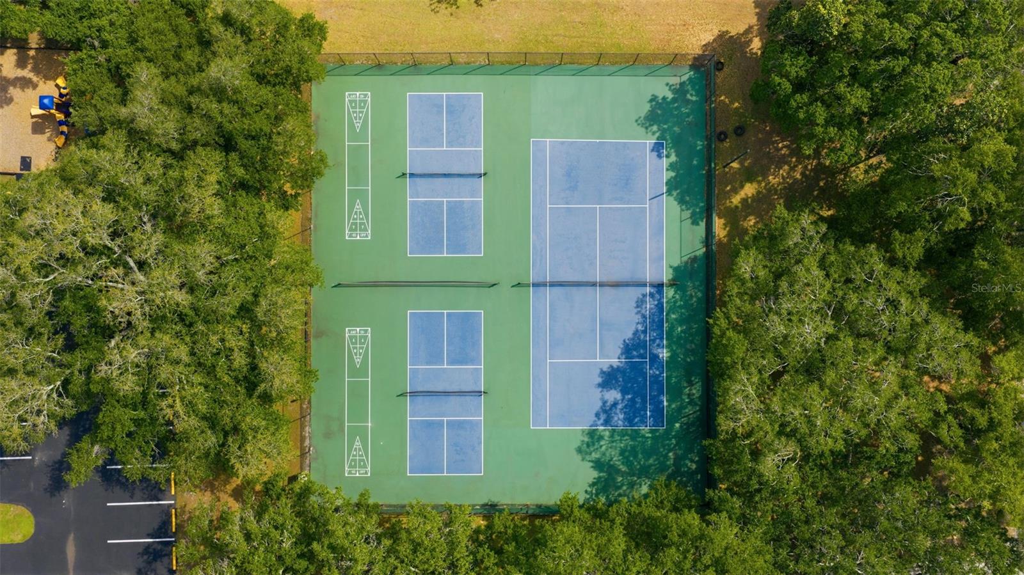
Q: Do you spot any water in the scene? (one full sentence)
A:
No, no water is visible.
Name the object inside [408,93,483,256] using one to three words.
sports court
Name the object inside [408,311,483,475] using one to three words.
sports court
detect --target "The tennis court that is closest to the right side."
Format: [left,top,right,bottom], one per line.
[531,139,665,428]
